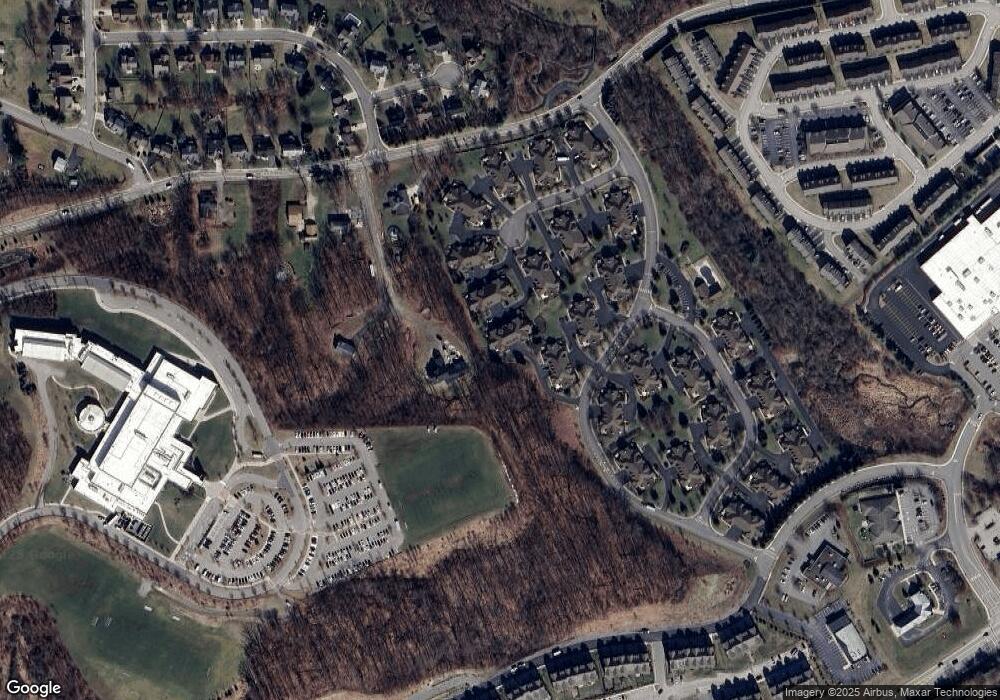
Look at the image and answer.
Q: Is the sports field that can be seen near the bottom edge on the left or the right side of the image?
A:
left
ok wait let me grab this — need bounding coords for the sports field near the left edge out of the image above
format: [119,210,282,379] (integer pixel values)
[2,534,235,700]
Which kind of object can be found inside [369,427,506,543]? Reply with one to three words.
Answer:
sports field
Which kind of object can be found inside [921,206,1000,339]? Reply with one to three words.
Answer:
building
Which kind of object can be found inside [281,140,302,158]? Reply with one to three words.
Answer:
house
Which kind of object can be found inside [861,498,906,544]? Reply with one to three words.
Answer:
house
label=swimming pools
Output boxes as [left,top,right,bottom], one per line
[692,256,724,288]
